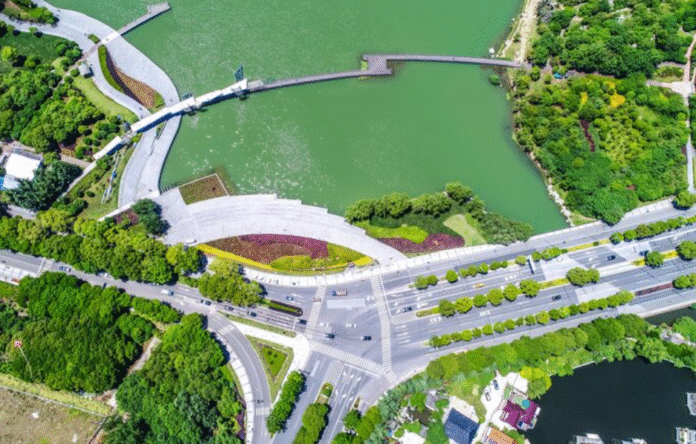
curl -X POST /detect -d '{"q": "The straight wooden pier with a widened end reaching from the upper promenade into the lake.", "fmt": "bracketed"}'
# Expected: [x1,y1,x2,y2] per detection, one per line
[117,0,171,37]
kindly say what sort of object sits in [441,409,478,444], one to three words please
house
